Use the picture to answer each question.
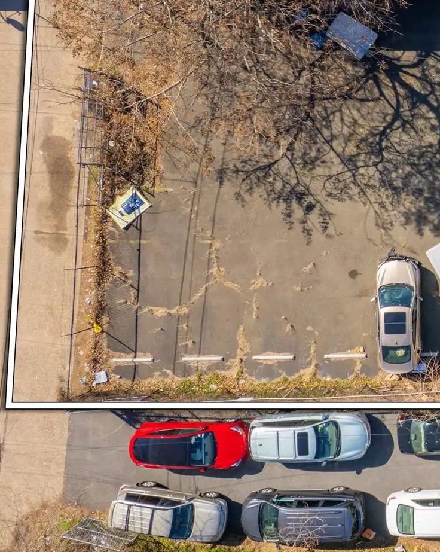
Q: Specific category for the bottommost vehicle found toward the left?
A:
automobile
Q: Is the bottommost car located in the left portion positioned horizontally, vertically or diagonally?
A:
horizontally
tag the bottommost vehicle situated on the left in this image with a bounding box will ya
[104,478,236,545]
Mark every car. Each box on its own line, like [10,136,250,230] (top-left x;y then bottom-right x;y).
[371,244,424,374]
[399,408,440,457]
[249,407,374,466]
[244,484,368,545]
[129,415,251,474]
[104,478,236,545]
[386,485,440,538]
